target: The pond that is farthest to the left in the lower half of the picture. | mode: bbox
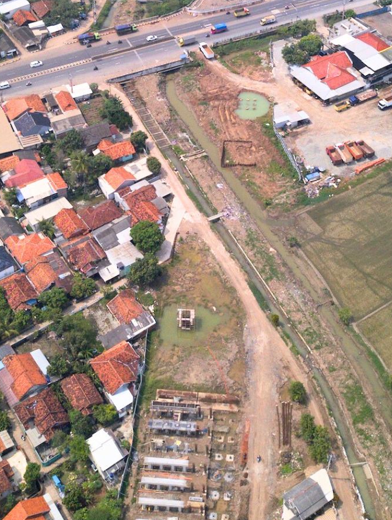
[152,301,229,348]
